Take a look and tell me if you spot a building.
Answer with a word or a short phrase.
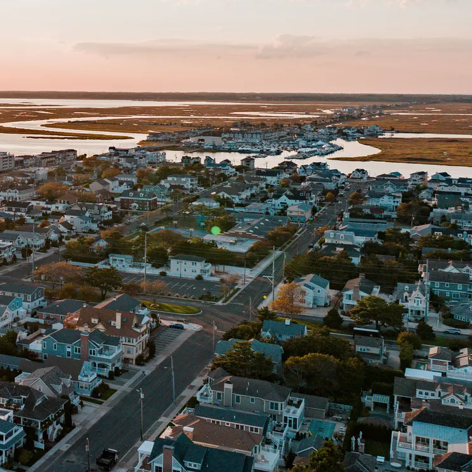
Yes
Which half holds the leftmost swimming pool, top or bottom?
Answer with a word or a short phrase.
bottom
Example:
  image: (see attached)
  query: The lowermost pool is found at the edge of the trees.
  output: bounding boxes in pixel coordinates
[304,415,351,443]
